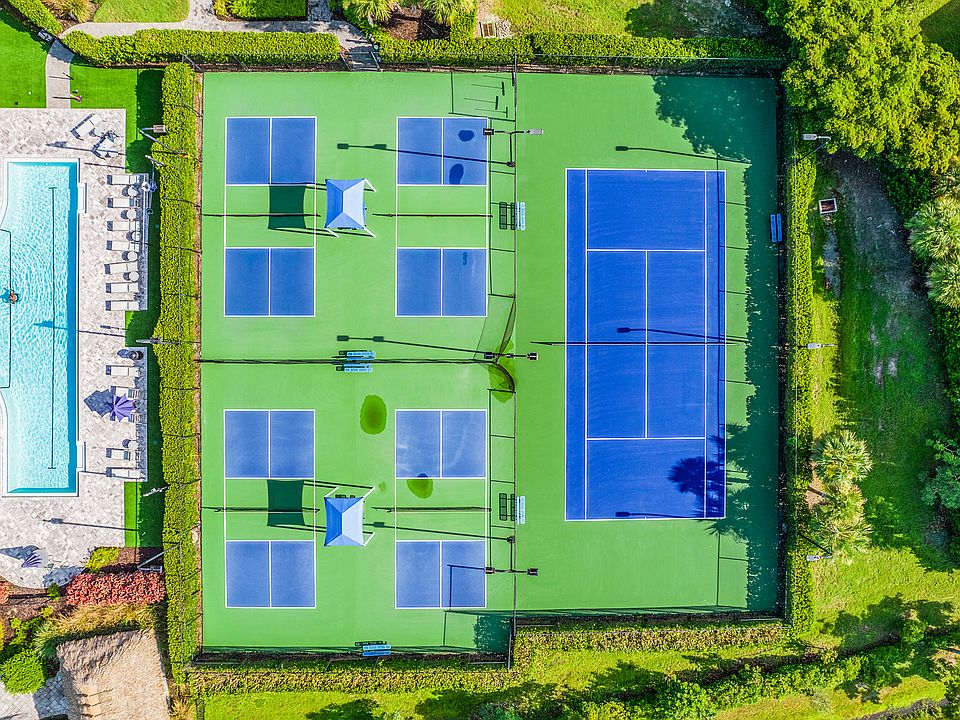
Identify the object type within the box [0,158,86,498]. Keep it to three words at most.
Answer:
swimming pool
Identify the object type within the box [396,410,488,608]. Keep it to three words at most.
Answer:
sports court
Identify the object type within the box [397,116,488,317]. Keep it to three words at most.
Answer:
sports court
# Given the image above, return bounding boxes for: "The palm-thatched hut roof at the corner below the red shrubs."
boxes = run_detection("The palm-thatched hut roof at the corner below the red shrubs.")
[57,620,176,720]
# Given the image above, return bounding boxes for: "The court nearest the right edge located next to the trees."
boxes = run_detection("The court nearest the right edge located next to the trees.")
[516,74,778,616]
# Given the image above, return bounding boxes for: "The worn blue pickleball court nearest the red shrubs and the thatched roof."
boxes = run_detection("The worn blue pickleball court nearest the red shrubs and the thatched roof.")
[224,410,316,608]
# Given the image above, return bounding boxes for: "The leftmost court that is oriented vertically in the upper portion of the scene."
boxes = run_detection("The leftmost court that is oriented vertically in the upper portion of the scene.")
[225,116,317,317]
